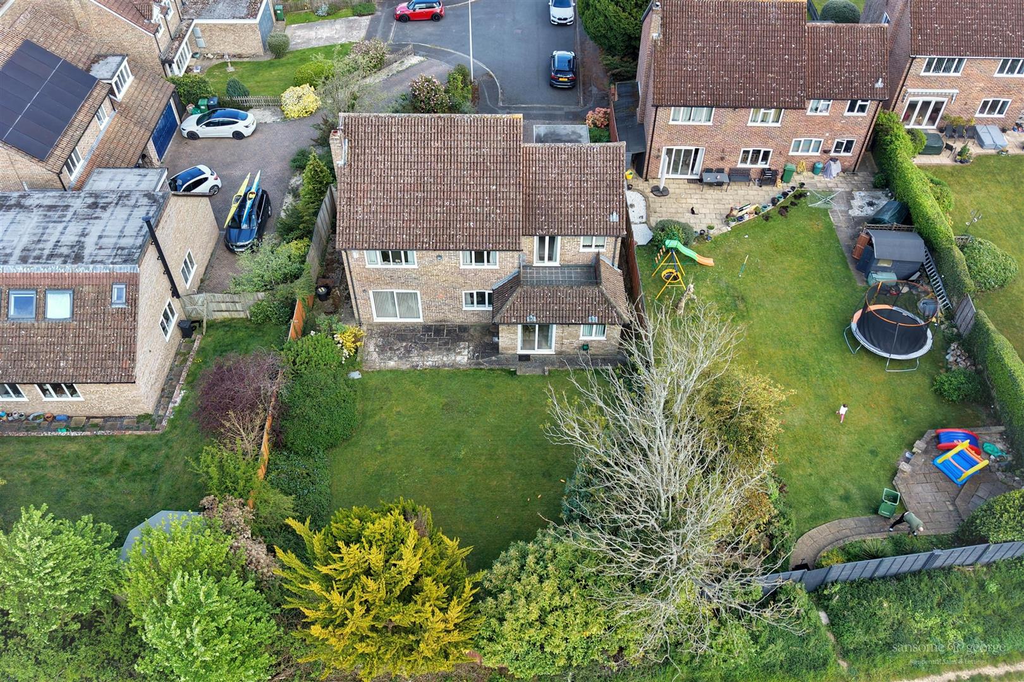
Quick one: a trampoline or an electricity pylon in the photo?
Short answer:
trampoline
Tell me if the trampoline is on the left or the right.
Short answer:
right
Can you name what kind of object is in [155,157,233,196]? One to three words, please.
car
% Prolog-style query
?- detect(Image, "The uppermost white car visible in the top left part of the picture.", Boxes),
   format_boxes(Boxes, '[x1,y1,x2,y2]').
[178,105,261,142]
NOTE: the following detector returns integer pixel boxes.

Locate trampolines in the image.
[842,282,941,377]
